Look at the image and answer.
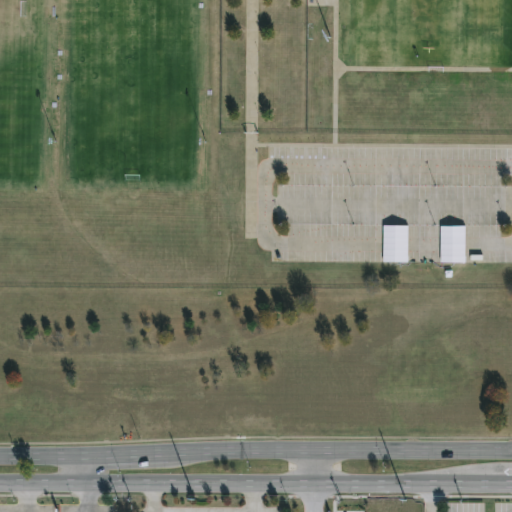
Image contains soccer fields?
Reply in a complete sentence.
Yes, the frame does contain a soccer field.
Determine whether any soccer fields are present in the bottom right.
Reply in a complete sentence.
No, in the bottom right there is no soccer field.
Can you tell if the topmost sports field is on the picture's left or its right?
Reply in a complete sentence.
You can find the topmost sports field on the right side of the picture.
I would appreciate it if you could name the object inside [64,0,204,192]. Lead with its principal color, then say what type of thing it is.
green soccer field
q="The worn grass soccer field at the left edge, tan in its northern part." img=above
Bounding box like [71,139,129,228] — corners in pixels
[0,0,48,192]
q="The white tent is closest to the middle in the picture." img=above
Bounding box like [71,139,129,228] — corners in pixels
[383,225,409,262]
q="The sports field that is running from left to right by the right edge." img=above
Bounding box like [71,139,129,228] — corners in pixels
[338,0,512,66]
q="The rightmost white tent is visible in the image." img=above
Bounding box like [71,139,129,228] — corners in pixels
[440,226,466,263]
